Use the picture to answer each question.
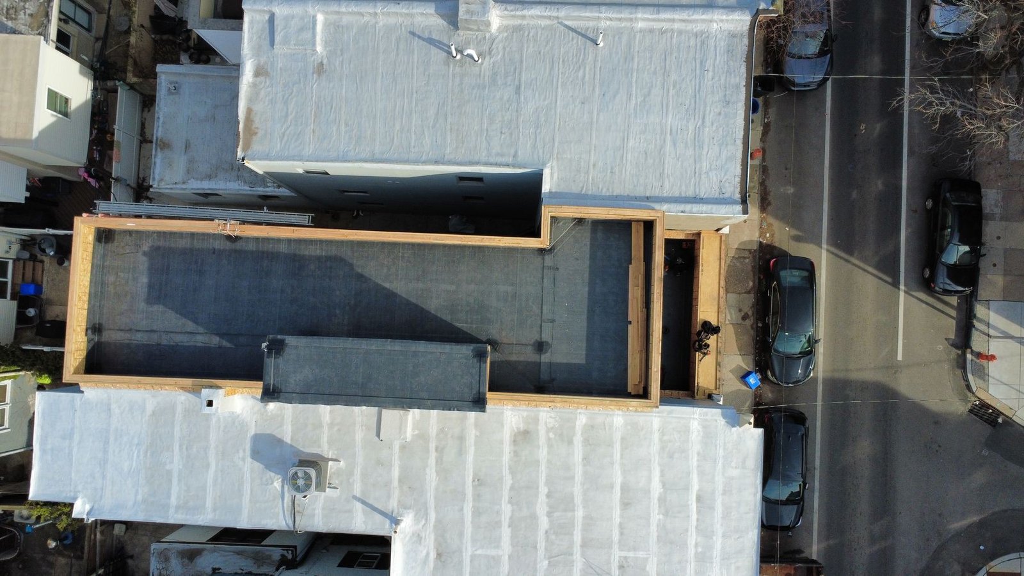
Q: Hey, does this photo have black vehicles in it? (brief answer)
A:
Yes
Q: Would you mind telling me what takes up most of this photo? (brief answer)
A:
buildings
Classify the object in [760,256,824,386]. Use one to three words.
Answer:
car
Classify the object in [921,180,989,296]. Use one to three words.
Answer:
car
